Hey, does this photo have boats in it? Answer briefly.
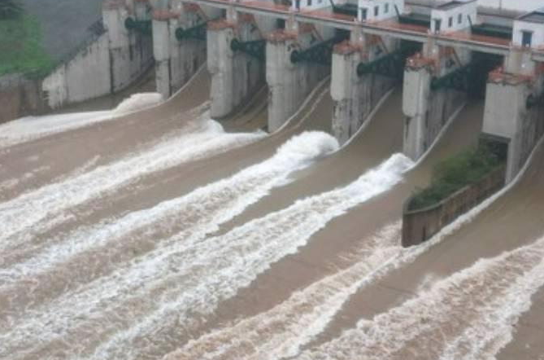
No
